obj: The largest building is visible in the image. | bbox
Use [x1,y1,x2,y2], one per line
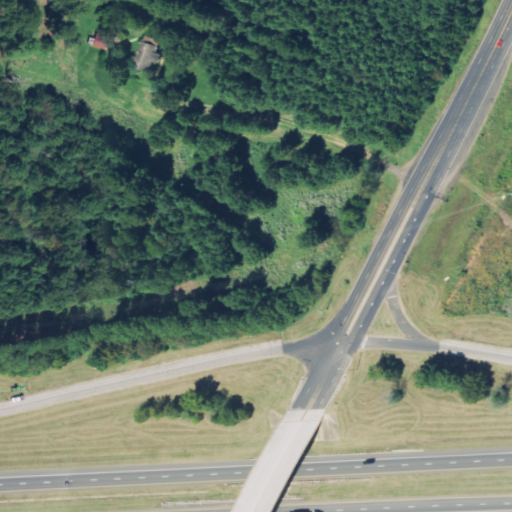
[131,40,162,74]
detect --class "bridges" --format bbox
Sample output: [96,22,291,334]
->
[229,408,326,512]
